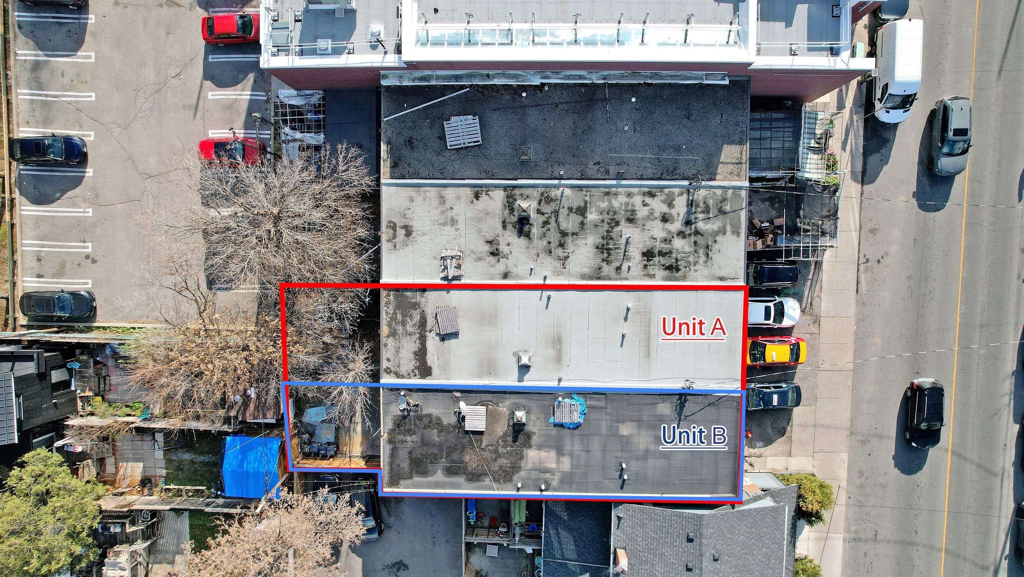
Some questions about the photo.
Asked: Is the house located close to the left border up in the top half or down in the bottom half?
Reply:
bottom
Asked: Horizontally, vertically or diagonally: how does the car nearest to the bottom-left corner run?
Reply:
horizontally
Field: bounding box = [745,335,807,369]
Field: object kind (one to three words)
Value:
car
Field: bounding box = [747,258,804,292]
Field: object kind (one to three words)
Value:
car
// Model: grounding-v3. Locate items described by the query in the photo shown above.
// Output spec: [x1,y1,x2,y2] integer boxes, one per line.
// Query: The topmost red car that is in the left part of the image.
[201,10,260,46]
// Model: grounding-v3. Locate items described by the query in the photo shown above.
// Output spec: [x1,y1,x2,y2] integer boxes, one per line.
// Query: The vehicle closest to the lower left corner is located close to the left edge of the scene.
[17,287,101,321]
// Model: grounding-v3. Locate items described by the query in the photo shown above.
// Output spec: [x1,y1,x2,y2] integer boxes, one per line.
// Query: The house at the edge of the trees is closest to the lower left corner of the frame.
[0,343,79,445]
